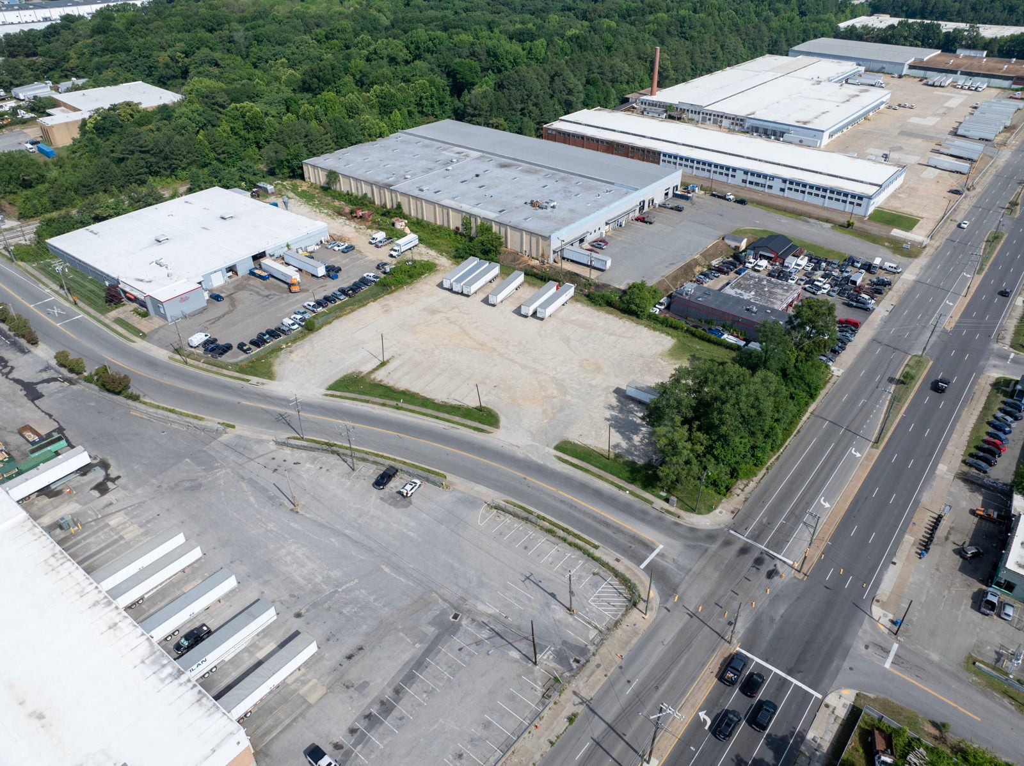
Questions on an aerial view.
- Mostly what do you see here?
paved ground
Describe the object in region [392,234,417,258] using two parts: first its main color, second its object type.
white truck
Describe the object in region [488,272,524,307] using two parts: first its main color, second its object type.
white trailer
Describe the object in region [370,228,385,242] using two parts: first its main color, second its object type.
white vehicle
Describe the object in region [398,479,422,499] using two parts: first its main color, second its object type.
white car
